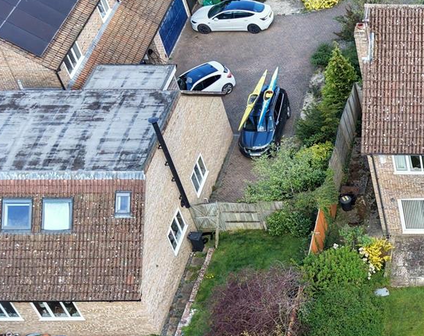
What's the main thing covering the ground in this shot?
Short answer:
buildings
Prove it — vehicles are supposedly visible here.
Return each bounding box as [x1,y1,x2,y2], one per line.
[188,0,279,36]
[163,53,248,96]
[234,82,299,161]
